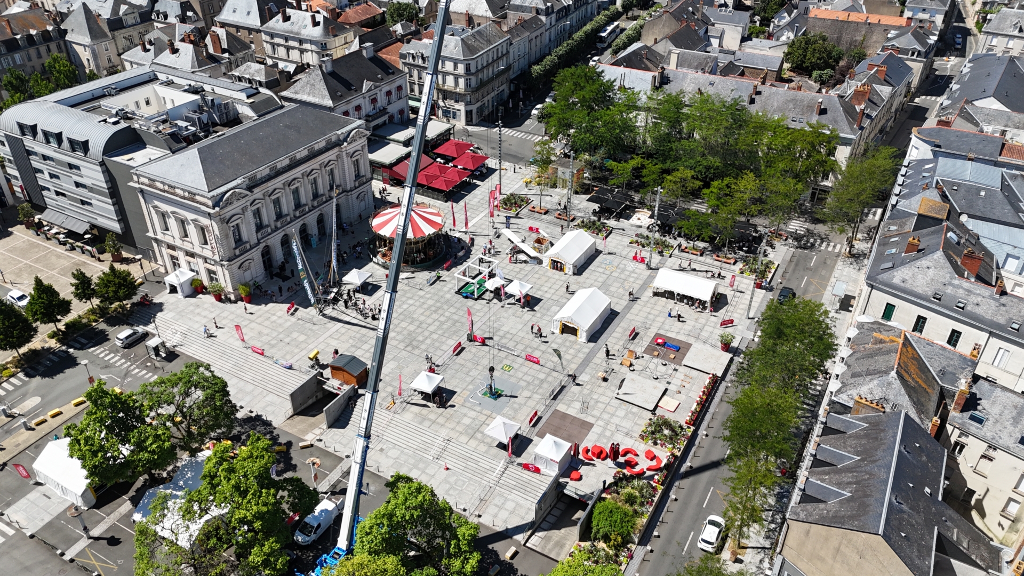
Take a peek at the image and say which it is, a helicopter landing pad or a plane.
plane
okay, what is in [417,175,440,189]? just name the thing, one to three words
umbrella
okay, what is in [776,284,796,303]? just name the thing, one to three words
car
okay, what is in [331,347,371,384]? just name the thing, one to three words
shed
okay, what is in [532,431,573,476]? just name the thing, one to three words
tent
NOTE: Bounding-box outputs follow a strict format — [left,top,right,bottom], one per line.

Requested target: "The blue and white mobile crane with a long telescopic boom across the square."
[260,0,498,576]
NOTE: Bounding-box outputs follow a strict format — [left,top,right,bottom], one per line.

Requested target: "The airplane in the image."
[500,230,552,261]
